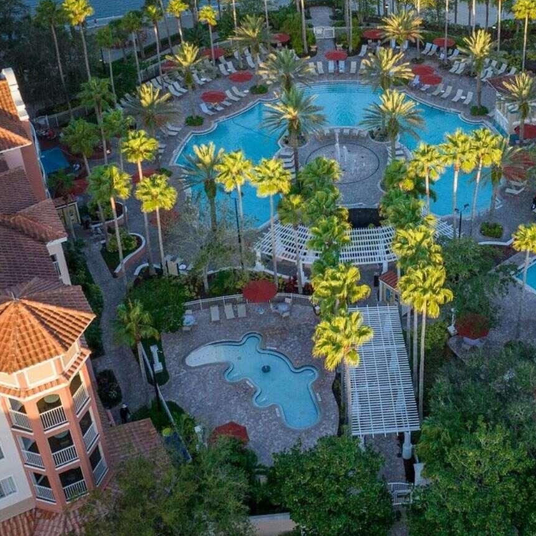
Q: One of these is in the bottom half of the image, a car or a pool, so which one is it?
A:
pool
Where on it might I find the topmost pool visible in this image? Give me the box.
[171,79,508,232]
